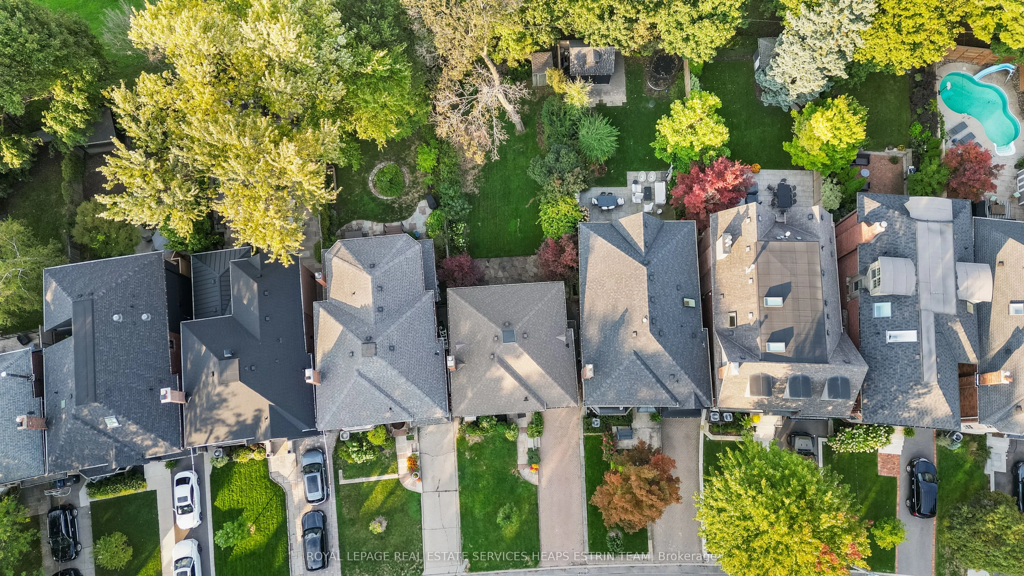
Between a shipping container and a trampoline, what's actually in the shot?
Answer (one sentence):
The image shows a trampoline.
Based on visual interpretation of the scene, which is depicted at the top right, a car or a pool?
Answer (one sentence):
The feature located at the top right is a pool.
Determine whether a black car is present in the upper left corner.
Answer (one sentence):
No, in the upper left corner there is no black car.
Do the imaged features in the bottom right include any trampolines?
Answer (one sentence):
No, no trampoline is visible in the bottom right.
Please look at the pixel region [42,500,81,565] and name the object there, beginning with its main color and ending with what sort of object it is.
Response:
black car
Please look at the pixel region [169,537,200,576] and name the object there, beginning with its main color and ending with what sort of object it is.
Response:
white car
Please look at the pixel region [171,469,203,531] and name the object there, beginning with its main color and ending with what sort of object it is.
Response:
white car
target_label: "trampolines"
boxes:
[645,54,677,90]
